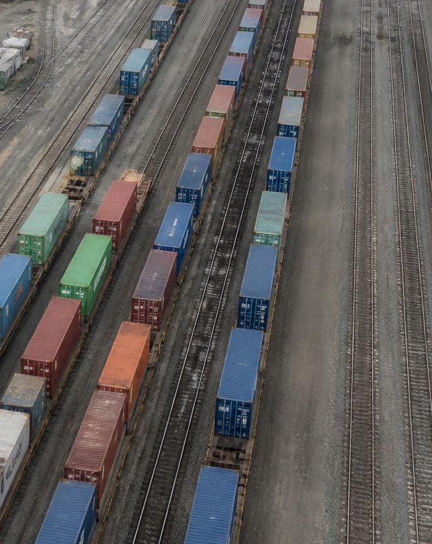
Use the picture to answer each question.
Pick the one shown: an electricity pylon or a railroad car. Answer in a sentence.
Looking from above, you can make out a railroad car.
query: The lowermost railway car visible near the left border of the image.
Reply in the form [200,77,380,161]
[0,399,55,532]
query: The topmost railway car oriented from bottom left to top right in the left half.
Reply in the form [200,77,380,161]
[148,10,183,51]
